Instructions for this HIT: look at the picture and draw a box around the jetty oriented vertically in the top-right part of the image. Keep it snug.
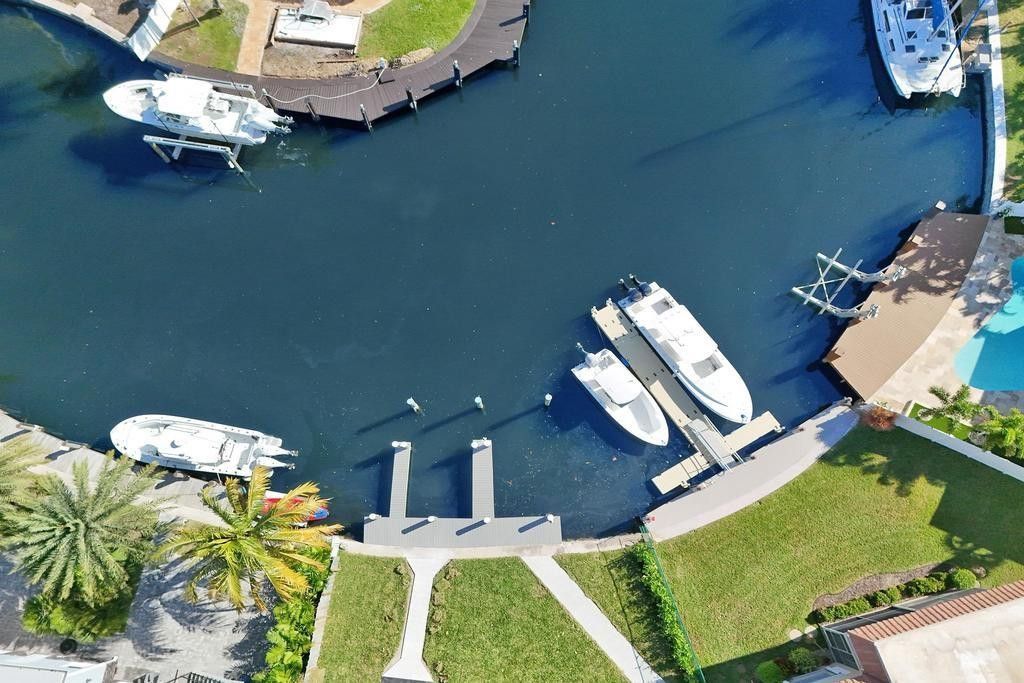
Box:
[964,0,990,70]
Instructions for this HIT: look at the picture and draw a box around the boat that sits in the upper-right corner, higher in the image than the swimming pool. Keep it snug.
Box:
[873,0,990,98]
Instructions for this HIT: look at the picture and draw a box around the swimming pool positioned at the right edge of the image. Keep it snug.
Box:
[948,250,1024,398]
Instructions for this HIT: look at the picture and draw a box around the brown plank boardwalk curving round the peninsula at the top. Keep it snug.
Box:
[147,0,530,125]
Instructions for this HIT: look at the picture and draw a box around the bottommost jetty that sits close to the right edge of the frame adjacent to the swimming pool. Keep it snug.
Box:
[821,212,991,404]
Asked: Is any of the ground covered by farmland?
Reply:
No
